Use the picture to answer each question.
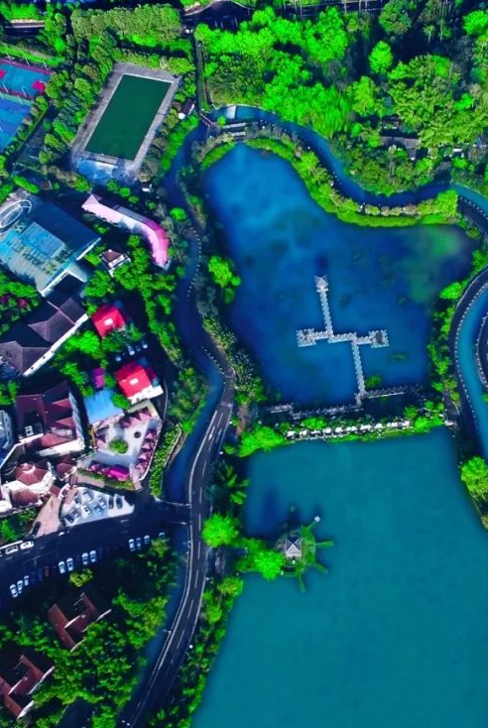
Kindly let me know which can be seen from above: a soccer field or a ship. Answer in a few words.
soccer field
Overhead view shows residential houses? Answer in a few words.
Yes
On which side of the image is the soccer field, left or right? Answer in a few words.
left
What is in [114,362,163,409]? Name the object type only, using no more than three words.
house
